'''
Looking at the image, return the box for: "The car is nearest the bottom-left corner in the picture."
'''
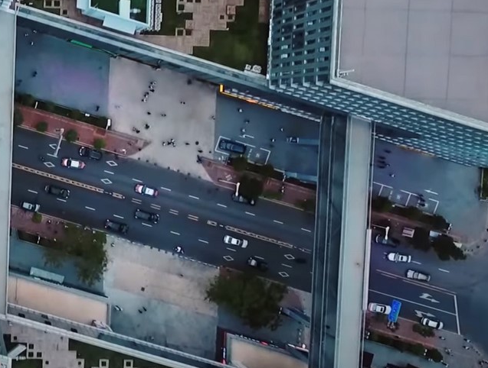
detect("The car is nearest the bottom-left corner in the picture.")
[19,200,41,213]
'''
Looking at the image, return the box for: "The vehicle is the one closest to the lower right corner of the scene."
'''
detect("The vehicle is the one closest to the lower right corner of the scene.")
[417,315,443,330]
